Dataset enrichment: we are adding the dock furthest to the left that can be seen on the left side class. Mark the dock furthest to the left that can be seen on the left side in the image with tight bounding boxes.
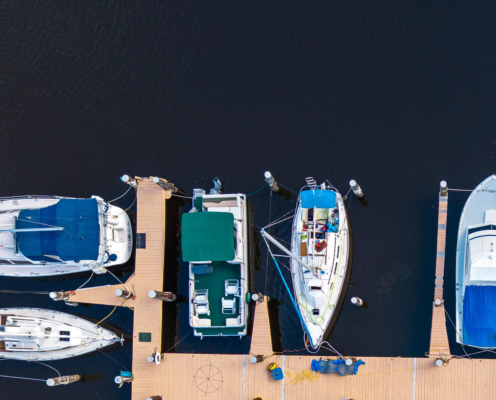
[69,267,137,307]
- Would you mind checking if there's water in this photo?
Yes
